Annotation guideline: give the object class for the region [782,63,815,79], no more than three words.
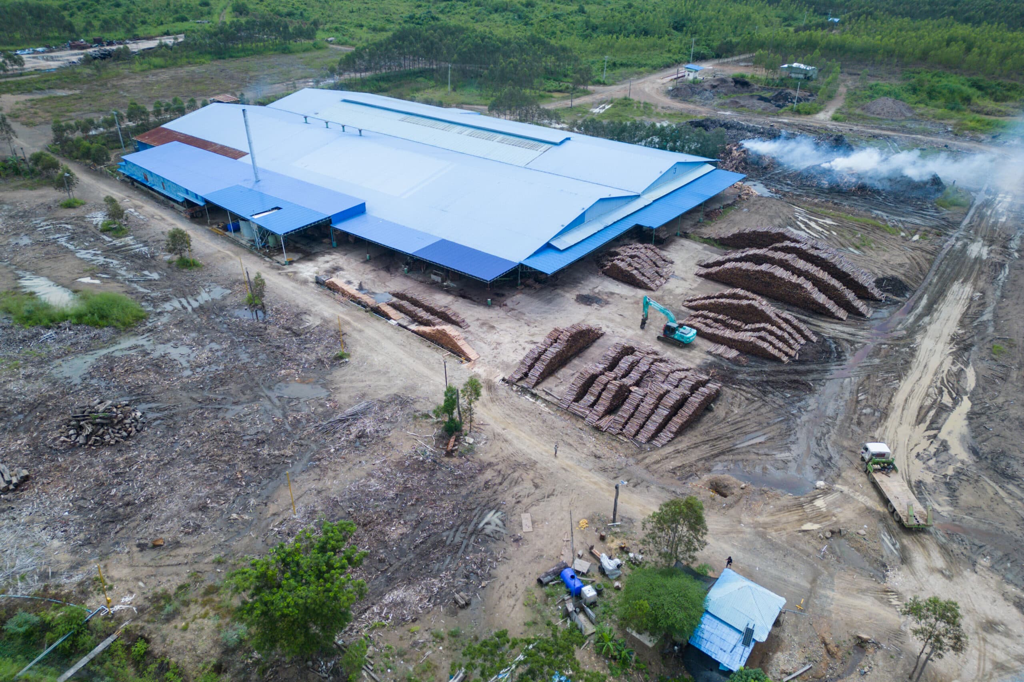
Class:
house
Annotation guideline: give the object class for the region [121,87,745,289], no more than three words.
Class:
building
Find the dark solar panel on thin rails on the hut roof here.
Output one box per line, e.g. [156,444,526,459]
[730,626,754,661]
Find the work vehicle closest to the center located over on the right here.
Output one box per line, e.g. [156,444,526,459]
[639,293,690,347]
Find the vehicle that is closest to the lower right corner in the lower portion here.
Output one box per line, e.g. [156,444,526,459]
[857,443,939,532]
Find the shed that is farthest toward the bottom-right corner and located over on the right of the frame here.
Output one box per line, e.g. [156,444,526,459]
[687,568,807,682]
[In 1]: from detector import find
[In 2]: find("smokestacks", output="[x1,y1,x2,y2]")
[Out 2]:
[241,107,260,182]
